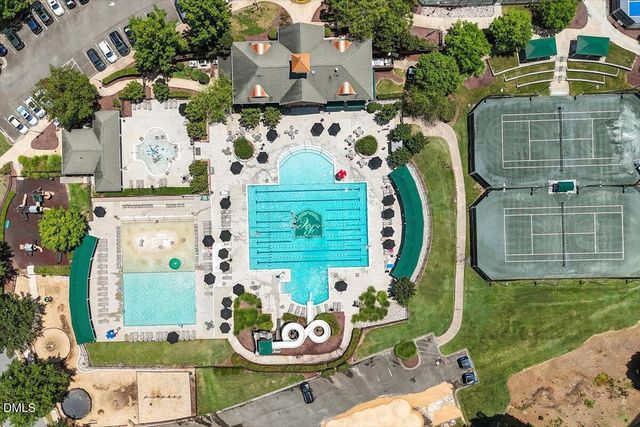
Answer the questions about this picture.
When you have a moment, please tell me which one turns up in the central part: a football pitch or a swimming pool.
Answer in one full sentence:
There is a swimming pool in the central part.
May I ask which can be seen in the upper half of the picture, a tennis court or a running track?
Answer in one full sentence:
What appears in the upper half of the picture is a tennis court.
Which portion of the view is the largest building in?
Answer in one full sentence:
Look in the top portion of the view to spot the largest building.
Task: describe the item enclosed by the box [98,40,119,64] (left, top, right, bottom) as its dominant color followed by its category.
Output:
white car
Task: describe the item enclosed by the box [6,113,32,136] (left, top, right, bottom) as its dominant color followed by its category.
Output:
white car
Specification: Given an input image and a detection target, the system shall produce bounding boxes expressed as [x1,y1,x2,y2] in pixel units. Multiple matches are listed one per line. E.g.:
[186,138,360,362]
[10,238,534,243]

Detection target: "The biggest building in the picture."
[219,18,373,116]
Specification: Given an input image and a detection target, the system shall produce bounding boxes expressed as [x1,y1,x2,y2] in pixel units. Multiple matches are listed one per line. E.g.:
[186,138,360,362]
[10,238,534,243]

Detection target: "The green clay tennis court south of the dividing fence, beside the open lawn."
[471,187,640,280]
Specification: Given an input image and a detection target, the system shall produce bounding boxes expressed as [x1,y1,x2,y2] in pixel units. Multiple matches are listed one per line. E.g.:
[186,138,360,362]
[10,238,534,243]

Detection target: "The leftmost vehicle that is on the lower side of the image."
[301,379,314,406]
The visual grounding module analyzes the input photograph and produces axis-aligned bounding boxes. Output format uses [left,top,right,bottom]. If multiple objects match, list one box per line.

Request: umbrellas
[219,321,232,333]
[381,238,396,250]
[368,156,382,169]
[381,208,394,221]
[220,307,232,319]
[202,234,215,247]
[266,129,279,142]
[221,296,233,308]
[334,279,347,292]
[219,260,231,271]
[311,123,324,136]
[337,170,346,179]
[168,330,181,342]
[204,273,216,284]
[381,225,394,238]
[107,328,119,338]
[328,123,341,135]
[233,283,245,296]
[256,151,268,164]
[220,229,232,242]
[218,248,230,259]
[230,163,243,174]
[381,193,394,206]
[94,205,108,217]
[178,104,191,116]
[219,198,231,208]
